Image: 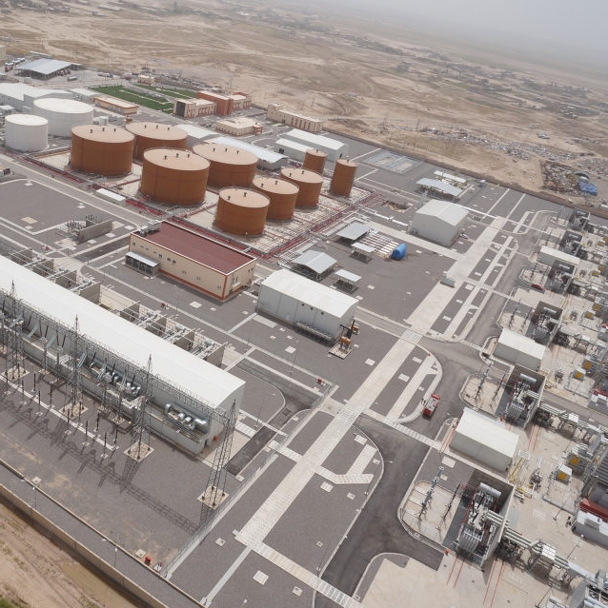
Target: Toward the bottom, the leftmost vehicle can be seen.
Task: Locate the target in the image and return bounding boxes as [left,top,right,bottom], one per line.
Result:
[424,394,442,413]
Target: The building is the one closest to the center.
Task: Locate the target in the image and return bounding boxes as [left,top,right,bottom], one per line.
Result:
[254,268,365,346]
